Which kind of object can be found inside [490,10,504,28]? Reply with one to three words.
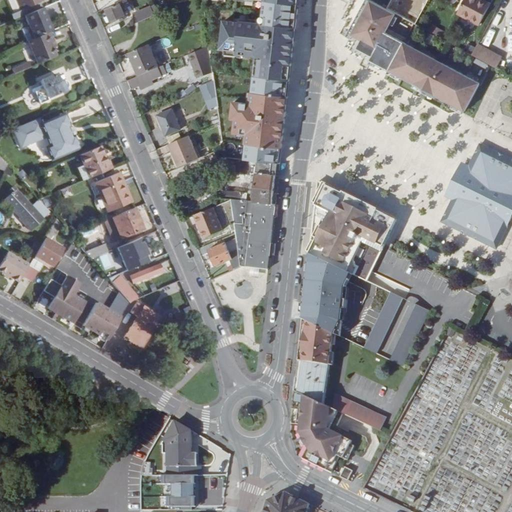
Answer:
vehicle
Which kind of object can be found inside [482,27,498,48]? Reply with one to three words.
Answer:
vehicle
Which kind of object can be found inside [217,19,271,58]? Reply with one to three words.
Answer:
house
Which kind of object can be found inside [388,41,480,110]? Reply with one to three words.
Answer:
building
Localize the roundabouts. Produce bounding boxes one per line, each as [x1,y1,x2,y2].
[215,378,288,451]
